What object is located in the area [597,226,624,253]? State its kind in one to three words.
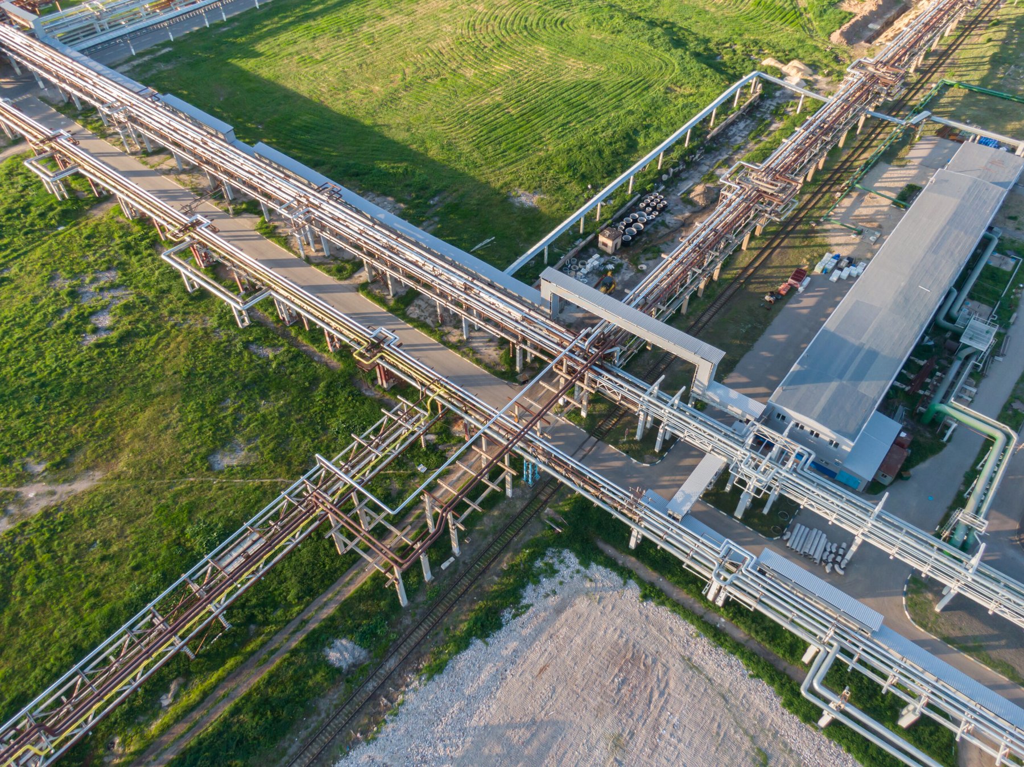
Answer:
shed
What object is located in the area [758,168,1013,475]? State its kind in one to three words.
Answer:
building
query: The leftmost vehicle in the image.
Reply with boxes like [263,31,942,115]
[598,259,617,294]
